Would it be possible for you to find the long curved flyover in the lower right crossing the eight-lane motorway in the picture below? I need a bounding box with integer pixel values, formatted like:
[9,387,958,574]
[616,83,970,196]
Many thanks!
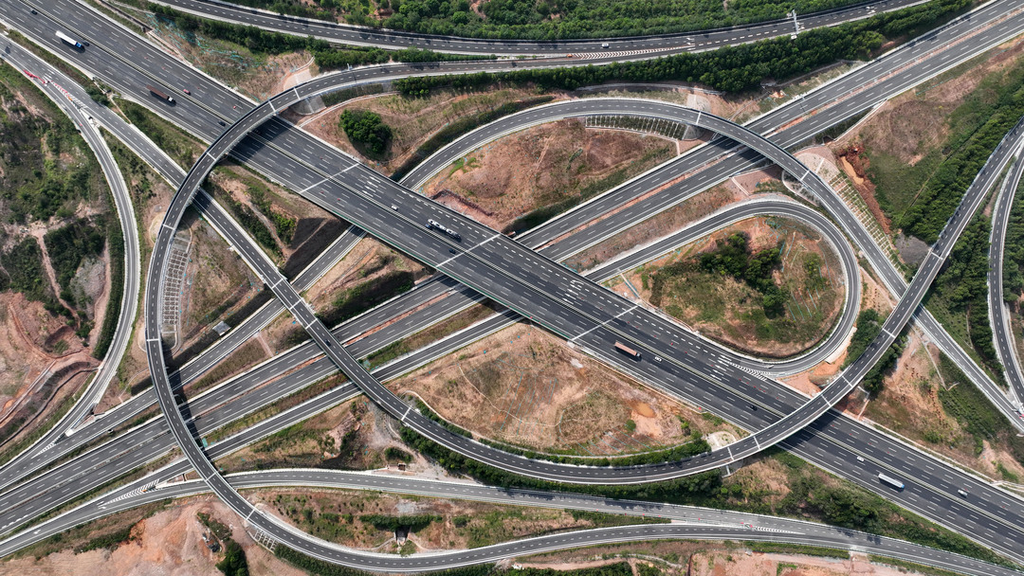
[727,250,945,461]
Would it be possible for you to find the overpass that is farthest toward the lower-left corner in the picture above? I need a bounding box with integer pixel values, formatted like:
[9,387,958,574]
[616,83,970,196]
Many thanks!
[147,338,254,519]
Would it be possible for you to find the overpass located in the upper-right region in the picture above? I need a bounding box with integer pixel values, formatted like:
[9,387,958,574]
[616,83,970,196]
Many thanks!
[695,112,810,181]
